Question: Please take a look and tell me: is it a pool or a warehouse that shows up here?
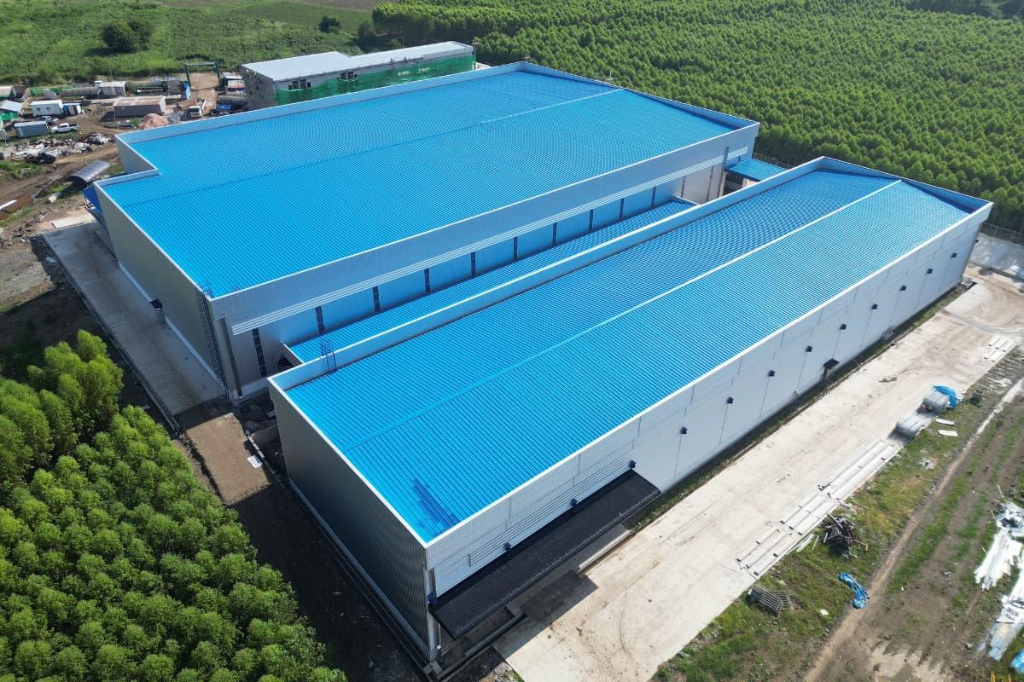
warehouse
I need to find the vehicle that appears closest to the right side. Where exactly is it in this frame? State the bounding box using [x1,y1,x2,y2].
[189,102,204,115]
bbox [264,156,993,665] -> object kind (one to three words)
warehouse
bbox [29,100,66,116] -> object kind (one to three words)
building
